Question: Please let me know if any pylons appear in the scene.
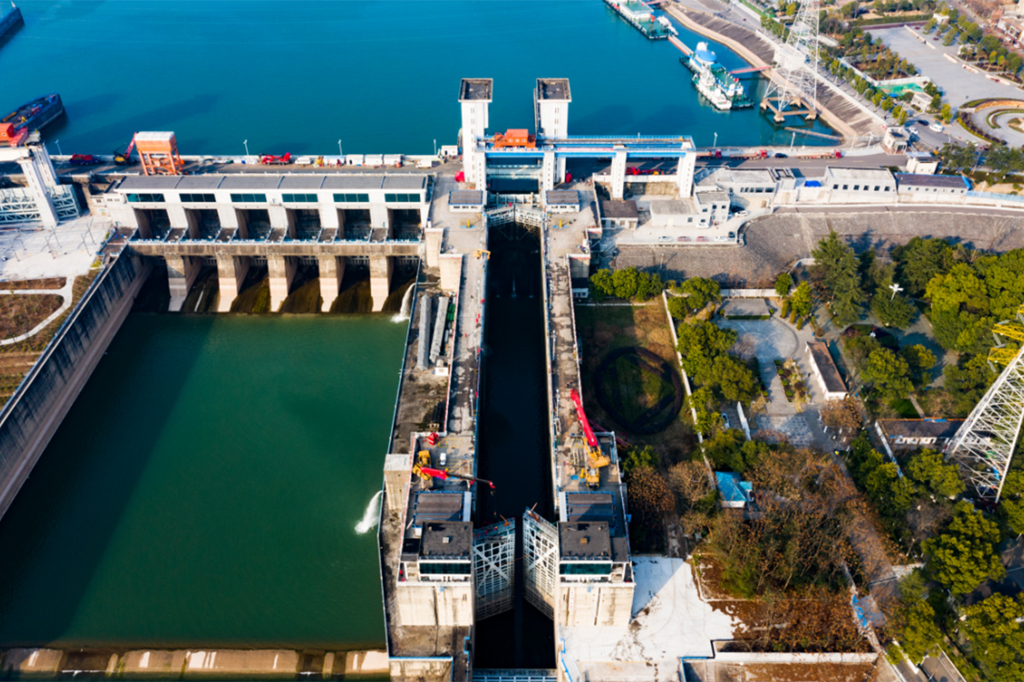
Yes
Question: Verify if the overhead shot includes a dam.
Yes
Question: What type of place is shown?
port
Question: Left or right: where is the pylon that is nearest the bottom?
right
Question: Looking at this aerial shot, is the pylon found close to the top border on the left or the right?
right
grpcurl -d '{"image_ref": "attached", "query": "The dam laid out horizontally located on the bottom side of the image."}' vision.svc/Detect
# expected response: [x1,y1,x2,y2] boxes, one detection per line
[0,645,390,673]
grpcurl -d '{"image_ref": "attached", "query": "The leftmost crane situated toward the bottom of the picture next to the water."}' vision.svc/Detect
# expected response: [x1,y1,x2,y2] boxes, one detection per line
[407,442,493,494]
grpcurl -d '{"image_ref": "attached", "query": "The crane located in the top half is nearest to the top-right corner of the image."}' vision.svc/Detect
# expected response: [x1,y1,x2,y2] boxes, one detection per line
[492,124,535,151]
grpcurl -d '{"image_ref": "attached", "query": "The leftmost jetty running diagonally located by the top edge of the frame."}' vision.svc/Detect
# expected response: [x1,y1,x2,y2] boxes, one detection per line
[598,0,671,43]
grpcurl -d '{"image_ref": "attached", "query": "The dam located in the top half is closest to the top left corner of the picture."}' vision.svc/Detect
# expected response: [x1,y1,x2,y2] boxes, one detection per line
[102,172,436,313]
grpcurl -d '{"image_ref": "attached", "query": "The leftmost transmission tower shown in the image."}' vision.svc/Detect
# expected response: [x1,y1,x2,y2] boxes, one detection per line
[759,0,817,125]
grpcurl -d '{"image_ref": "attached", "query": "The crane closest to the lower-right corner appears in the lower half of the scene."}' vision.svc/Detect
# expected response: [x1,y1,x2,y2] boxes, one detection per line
[572,387,609,482]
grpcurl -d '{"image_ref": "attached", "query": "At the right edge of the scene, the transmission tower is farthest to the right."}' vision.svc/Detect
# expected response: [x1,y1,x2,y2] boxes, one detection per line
[943,309,1024,505]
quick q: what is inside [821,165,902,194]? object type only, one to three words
building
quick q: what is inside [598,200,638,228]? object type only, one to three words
house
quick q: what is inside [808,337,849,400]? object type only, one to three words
building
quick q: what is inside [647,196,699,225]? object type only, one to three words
shed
